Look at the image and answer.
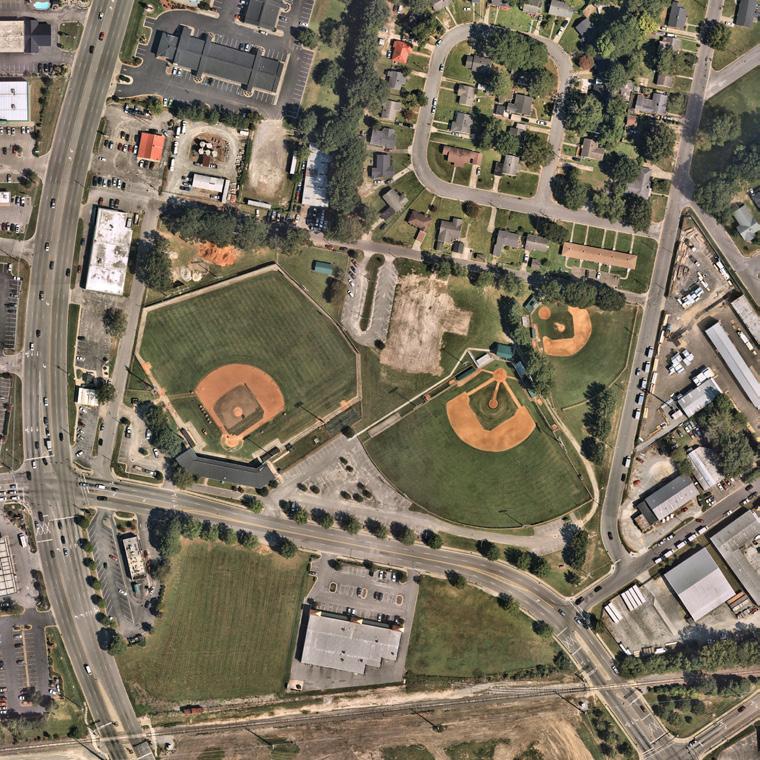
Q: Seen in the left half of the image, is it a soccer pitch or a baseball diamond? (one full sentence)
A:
The one visible in the left half of the image is a baseball diamond.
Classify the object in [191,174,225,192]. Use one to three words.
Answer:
shed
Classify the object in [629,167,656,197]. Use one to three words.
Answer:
house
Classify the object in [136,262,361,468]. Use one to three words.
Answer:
baseball field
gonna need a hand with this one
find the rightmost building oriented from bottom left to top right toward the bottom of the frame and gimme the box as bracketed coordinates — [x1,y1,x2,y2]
[712,510,760,554]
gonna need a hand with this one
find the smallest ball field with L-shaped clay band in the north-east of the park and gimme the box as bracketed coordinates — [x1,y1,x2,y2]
[533,304,635,406]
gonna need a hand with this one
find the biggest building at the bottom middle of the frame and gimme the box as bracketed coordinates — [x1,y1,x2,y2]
[301,616,402,675]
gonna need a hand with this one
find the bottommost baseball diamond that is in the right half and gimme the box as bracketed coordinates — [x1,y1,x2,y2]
[364,362,592,527]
